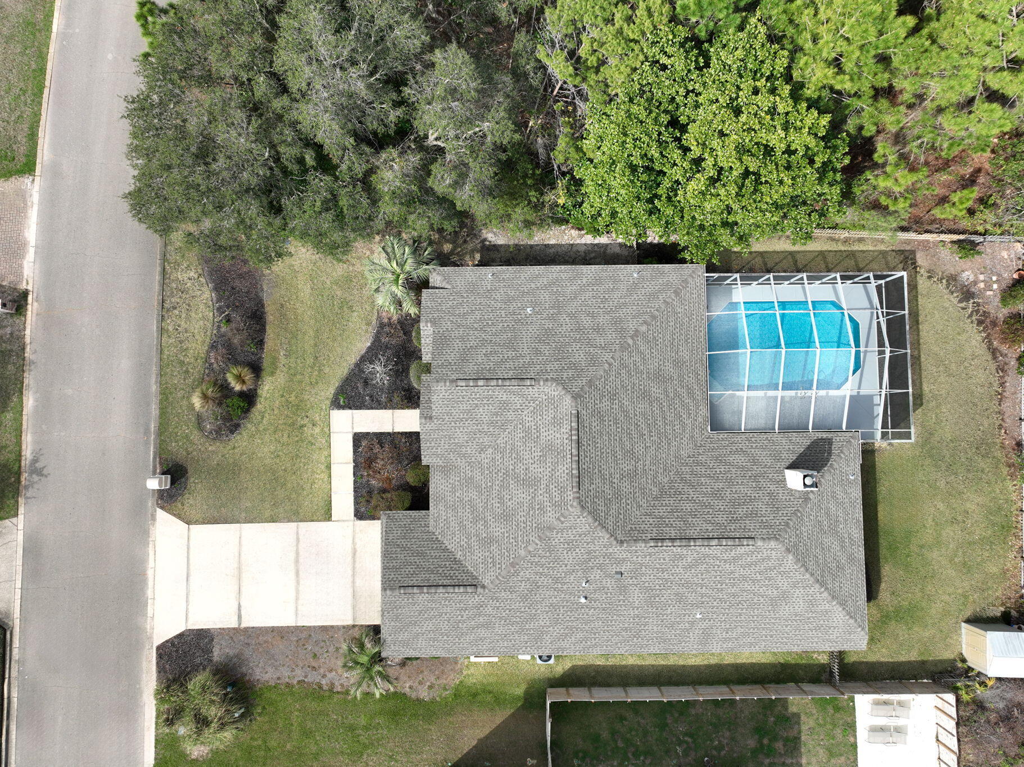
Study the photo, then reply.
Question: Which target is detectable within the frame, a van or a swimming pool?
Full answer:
There is a swimming pool in the scene.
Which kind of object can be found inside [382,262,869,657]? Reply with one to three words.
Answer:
house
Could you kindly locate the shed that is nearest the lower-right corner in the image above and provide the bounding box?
[962,621,1024,677]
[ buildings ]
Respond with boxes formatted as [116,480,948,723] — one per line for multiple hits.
[382,262,869,657]
[962,621,1024,677]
